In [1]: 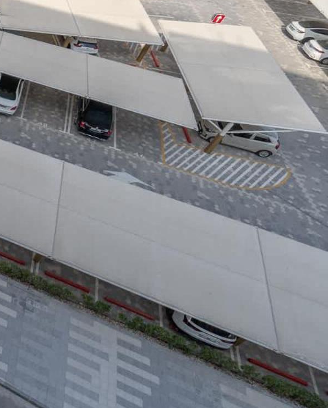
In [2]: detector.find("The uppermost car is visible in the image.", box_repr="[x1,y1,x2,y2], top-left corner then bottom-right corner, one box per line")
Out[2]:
[290,16,328,41]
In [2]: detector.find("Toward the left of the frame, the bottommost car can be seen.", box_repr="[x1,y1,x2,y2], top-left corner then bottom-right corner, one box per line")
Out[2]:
[76,97,119,139]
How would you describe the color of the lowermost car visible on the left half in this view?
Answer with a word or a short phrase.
black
